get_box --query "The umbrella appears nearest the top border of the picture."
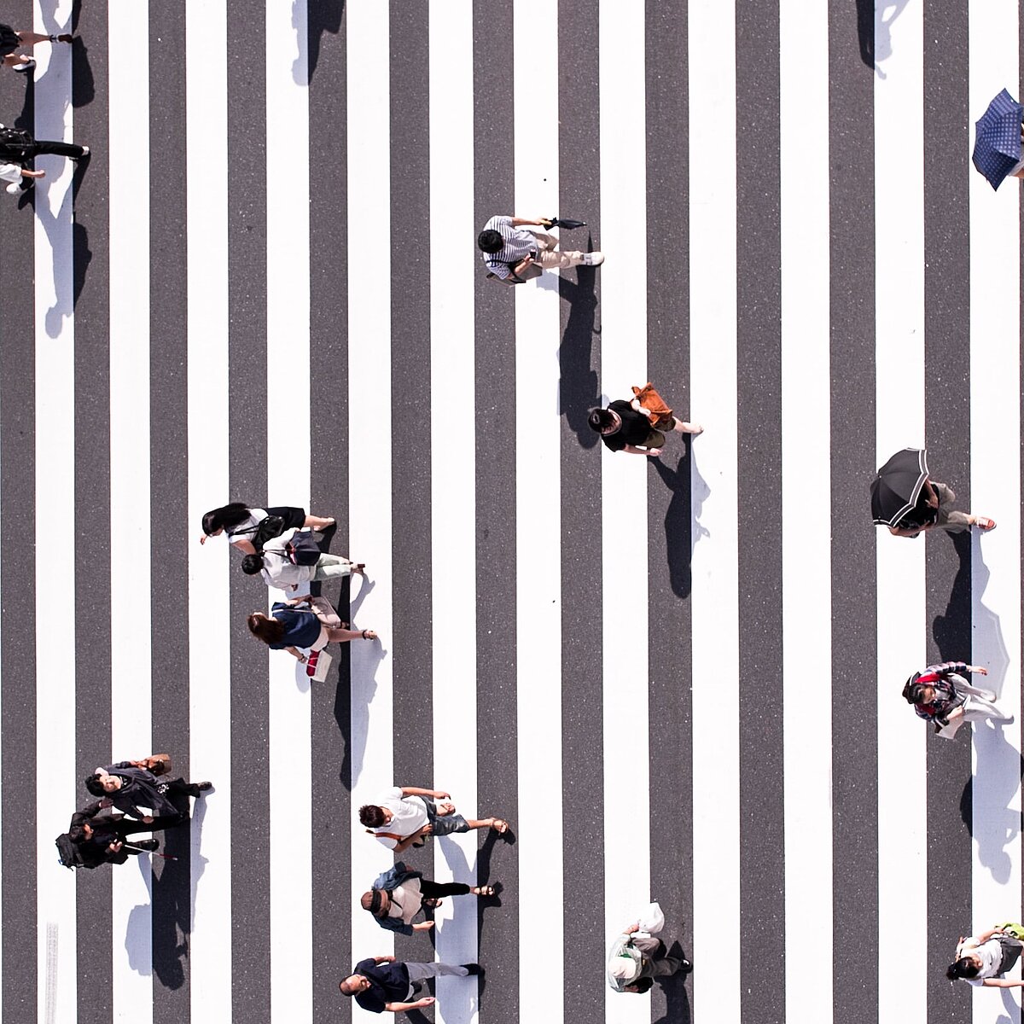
[972,87,1024,200]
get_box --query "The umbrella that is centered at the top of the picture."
[535,217,588,231]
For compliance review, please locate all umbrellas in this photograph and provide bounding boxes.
[870,446,958,526]
[972,87,1024,200]
[535,217,588,231]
